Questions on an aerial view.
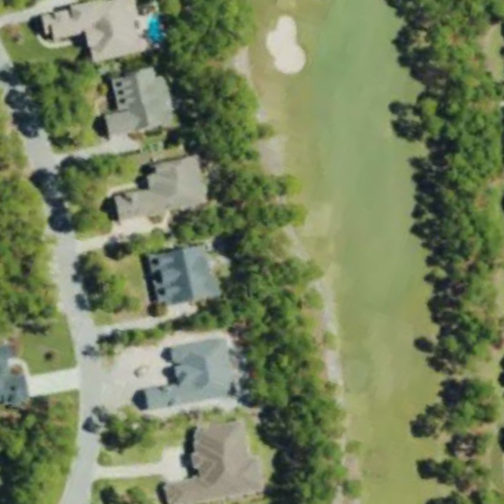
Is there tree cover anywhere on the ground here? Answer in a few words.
Yes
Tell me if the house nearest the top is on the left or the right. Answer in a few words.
left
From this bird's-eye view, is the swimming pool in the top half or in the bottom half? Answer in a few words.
top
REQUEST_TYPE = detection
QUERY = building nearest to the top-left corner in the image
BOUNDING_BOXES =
[40,0,149,63]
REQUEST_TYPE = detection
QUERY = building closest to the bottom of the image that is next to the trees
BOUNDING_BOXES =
[169,420,269,504]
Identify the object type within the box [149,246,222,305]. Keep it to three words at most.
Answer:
house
